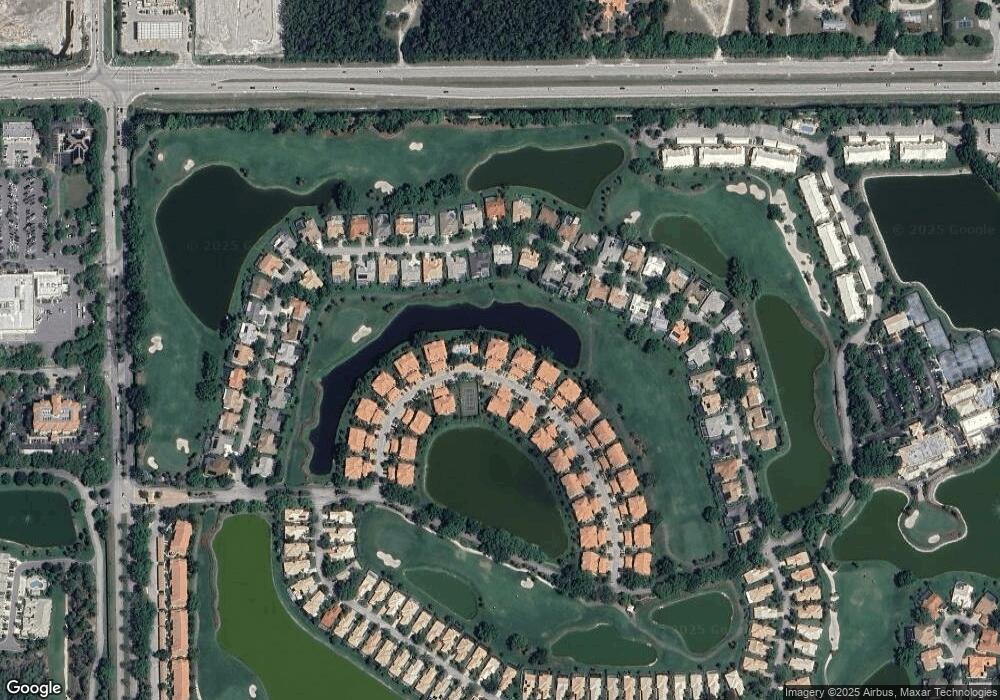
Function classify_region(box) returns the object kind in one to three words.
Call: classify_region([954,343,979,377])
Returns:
tennis court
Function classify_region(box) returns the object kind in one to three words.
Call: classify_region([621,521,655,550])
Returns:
house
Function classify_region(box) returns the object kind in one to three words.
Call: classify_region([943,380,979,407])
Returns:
building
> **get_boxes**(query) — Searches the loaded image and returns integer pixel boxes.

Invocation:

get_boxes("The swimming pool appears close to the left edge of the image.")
[26,577,48,592]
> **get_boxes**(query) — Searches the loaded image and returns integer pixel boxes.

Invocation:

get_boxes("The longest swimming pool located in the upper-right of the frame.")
[792,121,818,136]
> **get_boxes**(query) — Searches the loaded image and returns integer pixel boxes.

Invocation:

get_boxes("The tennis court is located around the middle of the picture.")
[460,382,479,416]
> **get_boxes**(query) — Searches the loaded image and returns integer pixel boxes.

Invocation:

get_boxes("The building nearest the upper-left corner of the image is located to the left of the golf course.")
[3,122,32,140]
